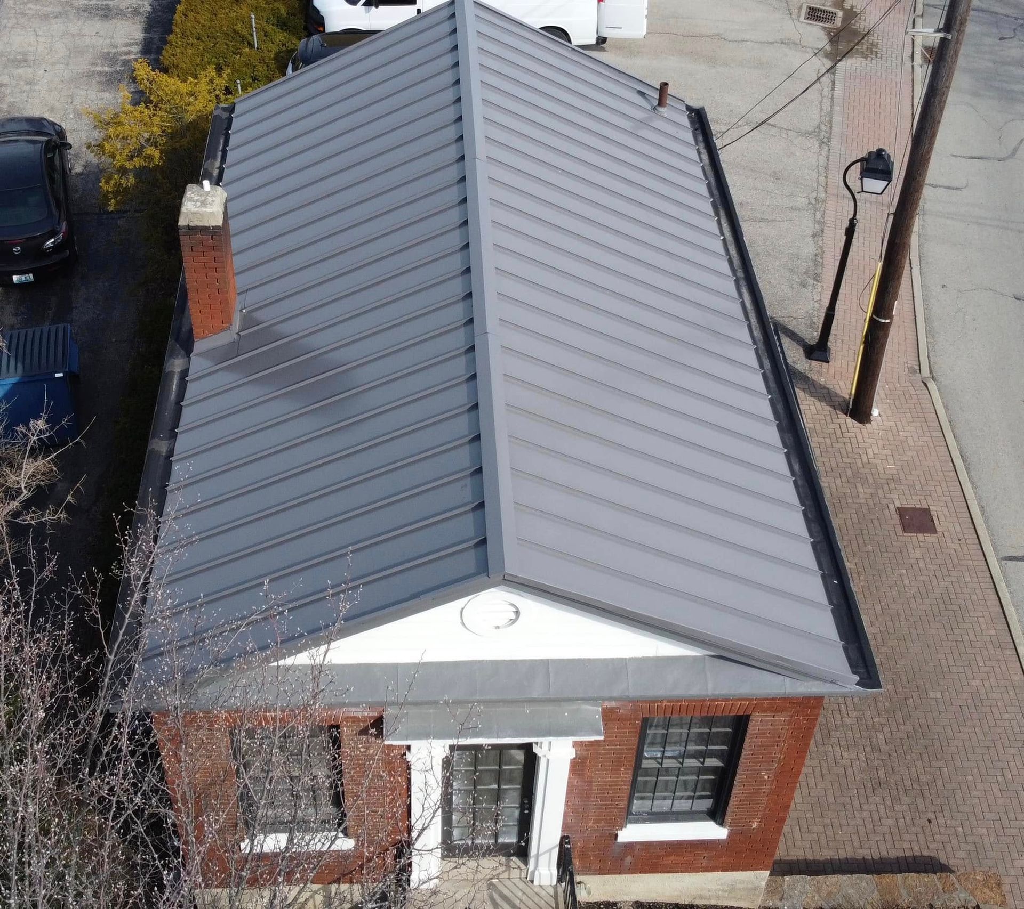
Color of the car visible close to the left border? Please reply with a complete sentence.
The color of the car visible close to the left border is black.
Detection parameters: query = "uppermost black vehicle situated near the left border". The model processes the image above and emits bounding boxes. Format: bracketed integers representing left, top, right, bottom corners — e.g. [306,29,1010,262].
[0,118,83,283]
